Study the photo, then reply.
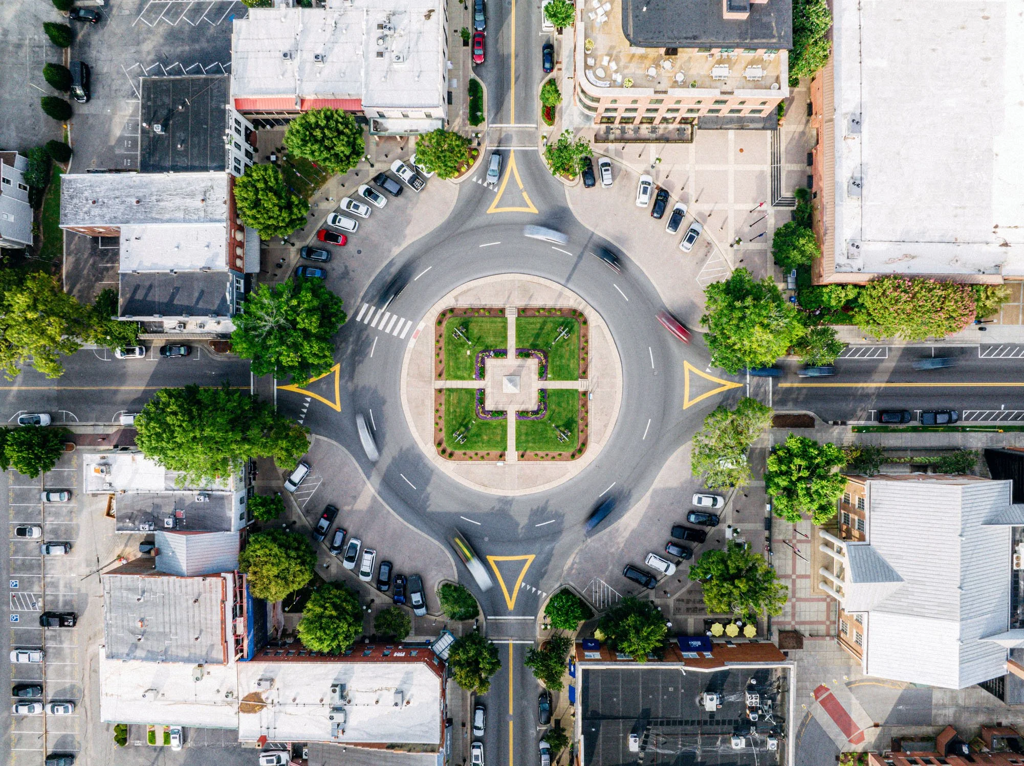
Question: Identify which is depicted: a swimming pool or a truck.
truck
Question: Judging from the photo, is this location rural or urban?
urban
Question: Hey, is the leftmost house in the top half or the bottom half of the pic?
top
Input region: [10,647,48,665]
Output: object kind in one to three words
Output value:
vehicle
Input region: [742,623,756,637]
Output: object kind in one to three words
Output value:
umbrella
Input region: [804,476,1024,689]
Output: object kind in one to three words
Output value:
building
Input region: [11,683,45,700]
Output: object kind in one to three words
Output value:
car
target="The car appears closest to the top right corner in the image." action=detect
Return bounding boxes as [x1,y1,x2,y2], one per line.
[917,356,952,372]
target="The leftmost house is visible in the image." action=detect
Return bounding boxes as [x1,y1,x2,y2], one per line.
[0,151,42,249]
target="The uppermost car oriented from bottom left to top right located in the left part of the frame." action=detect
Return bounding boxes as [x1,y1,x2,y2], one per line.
[380,272,411,307]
